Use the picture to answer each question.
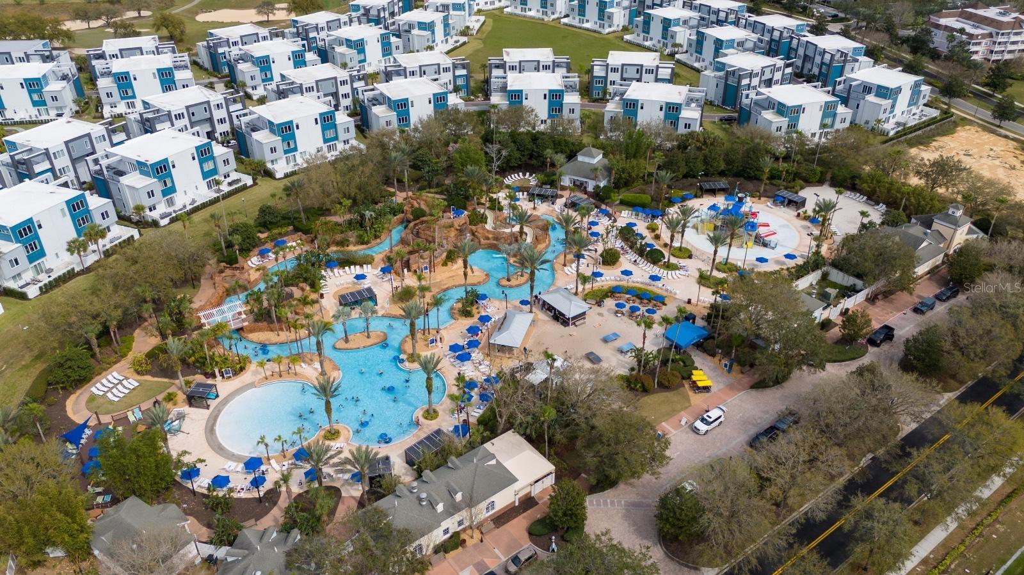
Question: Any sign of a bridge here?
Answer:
Yes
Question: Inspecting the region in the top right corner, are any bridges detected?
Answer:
No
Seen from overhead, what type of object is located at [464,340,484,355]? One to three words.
umbrella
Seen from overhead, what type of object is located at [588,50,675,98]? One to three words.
house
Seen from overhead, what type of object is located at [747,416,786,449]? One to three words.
car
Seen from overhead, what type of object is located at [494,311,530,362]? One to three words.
building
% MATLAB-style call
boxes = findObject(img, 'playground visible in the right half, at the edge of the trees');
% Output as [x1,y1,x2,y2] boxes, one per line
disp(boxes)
[695,184,781,254]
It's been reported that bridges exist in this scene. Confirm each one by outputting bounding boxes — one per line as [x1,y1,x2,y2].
[191,297,255,339]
